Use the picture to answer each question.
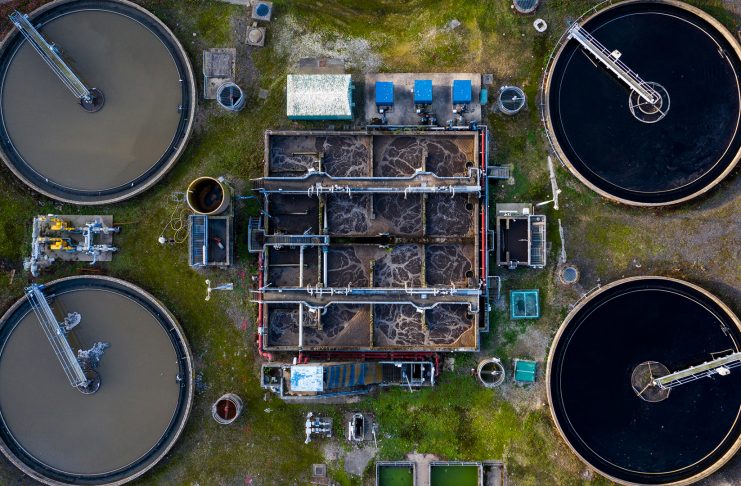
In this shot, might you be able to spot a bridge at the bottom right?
Yes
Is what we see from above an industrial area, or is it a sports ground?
industrial area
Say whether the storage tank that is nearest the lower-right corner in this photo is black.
Yes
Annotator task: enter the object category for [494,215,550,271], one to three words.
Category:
storage tank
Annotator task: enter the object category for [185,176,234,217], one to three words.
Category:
storage tank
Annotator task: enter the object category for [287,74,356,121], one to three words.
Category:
shed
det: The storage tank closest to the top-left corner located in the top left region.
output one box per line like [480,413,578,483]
[0,0,200,205]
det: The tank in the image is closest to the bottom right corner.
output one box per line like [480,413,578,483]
[544,275,741,486]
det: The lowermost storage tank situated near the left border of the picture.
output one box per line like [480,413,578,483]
[0,275,198,486]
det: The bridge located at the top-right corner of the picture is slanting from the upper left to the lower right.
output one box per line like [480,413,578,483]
[565,22,662,107]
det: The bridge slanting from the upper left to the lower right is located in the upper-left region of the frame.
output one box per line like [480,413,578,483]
[3,6,92,99]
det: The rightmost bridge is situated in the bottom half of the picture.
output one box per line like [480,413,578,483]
[651,348,741,390]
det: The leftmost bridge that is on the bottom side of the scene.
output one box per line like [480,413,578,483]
[22,283,87,391]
